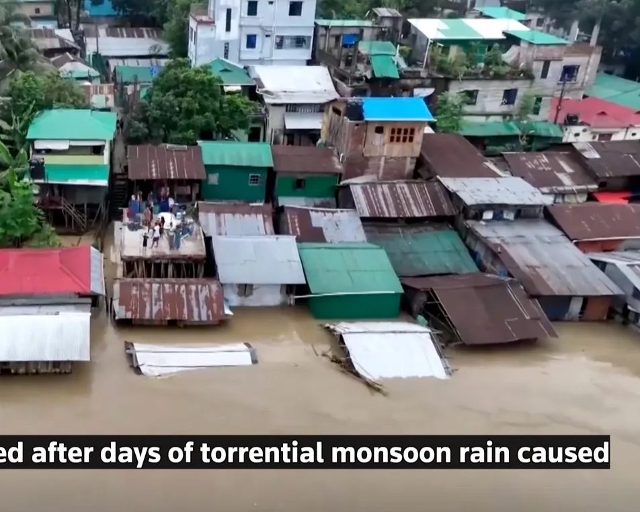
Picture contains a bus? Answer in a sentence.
No, this view has no bus in it.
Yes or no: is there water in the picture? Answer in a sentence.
Yes, water can be seen from above here.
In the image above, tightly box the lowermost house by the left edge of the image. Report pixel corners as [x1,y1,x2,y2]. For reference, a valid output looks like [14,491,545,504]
[0,303,91,373]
